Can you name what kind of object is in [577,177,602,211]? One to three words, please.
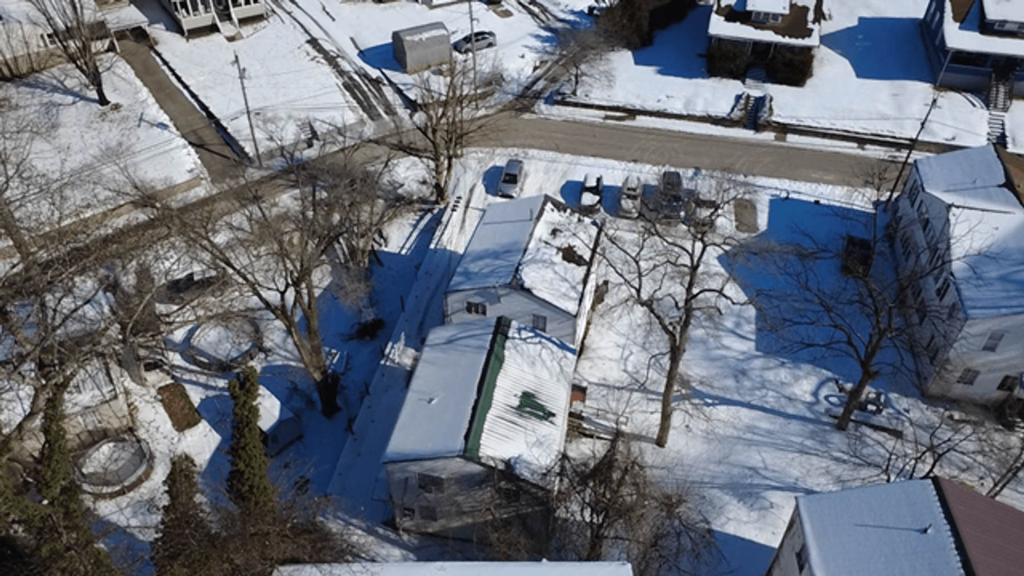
car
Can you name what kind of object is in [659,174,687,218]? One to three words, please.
car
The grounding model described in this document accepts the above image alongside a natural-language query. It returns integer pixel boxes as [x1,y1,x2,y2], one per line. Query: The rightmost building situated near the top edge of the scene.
[925,0,1024,106]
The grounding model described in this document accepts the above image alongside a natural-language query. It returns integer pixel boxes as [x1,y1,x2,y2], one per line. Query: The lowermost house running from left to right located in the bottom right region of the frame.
[756,467,1024,576]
